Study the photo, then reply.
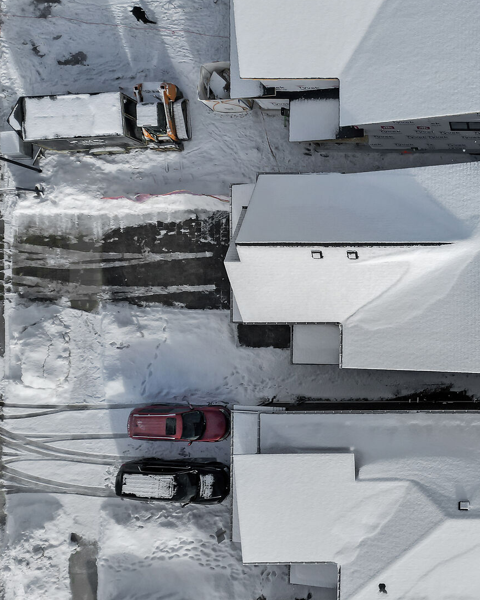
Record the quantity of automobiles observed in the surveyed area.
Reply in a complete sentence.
Altogether the scene contains 2 automobiles.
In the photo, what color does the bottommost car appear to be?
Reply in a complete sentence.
In this view, the bottommost car is black.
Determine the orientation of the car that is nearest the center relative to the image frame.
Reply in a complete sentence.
In this picture, the car that is nearest the center is oriented horizontally.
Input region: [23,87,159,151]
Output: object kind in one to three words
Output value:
trailer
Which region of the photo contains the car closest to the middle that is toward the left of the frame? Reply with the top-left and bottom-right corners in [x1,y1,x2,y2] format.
[127,402,230,450]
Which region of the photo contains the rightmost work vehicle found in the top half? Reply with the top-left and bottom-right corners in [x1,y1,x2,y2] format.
[131,76,185,161]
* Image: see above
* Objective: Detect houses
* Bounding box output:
[229,0,480,149]
[230,400,480,600]
[223,159,480,372]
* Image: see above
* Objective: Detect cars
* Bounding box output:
[127,402,230,450]
[115,457,230,509]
